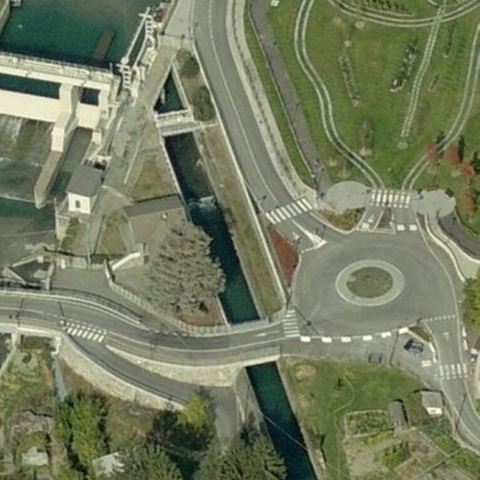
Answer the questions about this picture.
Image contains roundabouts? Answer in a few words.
Yes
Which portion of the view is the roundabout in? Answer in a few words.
right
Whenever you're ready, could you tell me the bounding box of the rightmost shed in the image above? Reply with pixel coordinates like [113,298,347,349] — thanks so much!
[420,390,444,420]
